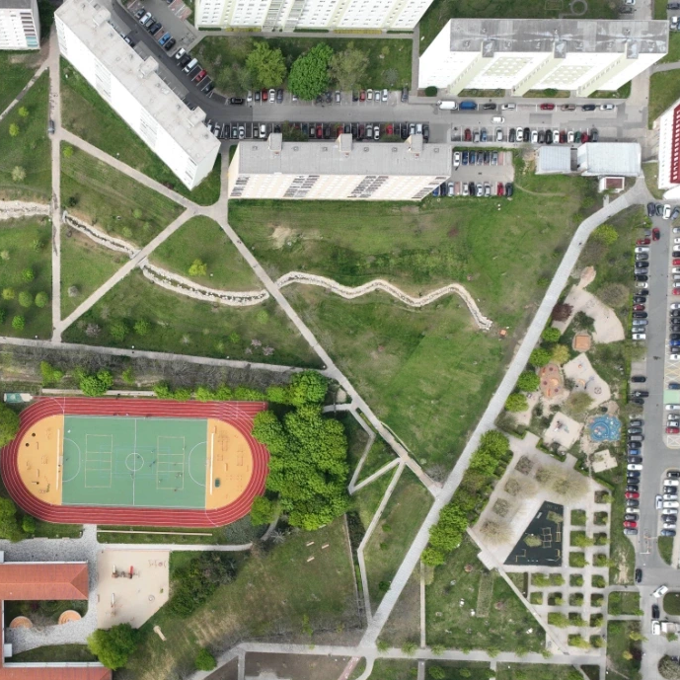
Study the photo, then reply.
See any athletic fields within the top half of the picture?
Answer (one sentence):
No, the scene shows no athletic field within the top half of the picture.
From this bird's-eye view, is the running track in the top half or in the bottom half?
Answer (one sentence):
Seen from above, the running track lies in the bottom half of the view.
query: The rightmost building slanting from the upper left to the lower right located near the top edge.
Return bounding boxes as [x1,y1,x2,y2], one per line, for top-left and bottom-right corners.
[54,0,221,190]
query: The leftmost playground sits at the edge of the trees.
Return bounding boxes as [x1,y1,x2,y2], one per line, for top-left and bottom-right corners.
[540,363,563,398]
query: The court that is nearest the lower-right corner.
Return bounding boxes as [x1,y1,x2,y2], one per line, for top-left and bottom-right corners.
[504,501,564,567]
